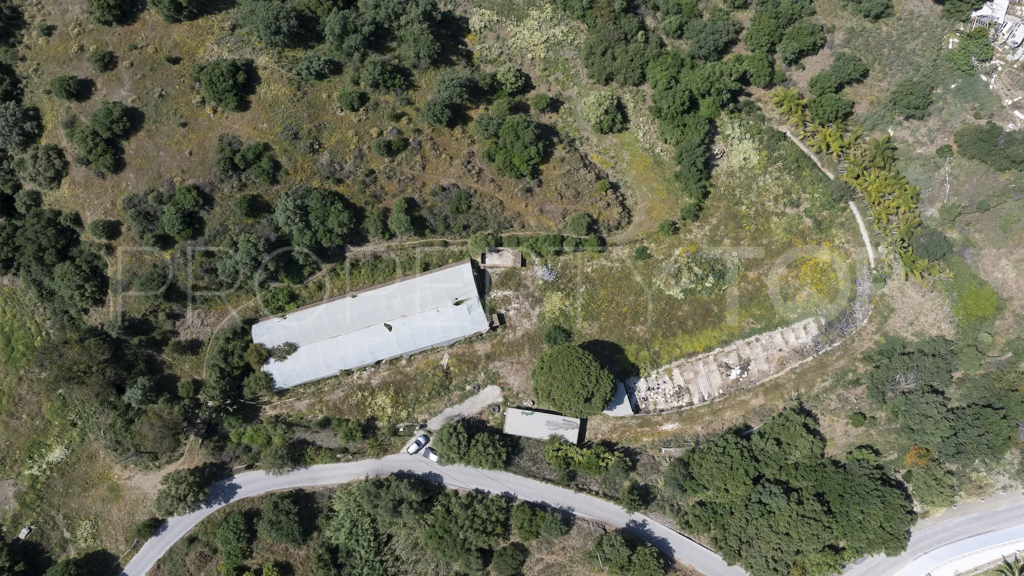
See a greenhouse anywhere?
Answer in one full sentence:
Yes, there is a greenhouse in the image.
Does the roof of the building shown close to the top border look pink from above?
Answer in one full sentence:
No, the color of the roof of the building shown close to the top border is white.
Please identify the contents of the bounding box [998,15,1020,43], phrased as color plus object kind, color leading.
white vehicle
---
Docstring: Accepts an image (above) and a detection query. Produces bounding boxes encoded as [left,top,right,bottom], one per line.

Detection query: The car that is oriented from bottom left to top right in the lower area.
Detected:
[406,433,431,457]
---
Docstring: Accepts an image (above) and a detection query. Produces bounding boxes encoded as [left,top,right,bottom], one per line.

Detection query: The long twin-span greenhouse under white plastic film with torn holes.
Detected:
[252,261,490,389]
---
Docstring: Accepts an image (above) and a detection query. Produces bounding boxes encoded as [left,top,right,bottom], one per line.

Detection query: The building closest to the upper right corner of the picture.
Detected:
[966,0,1009,31]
